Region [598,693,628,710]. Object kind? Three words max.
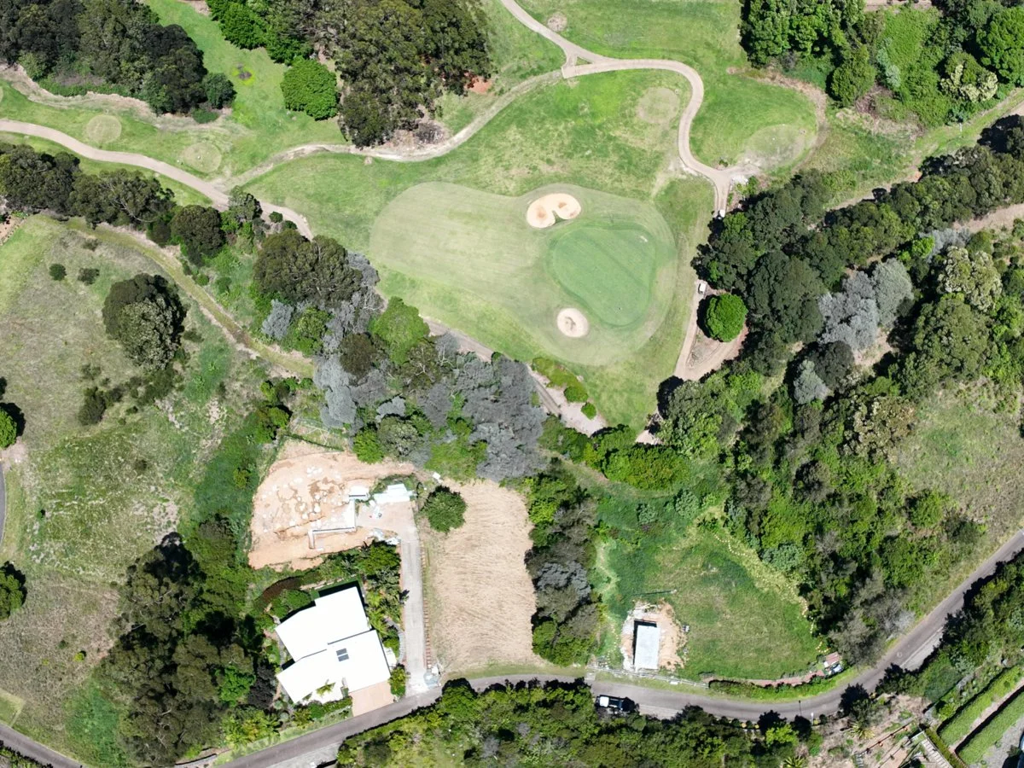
vehicle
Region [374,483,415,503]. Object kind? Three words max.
shed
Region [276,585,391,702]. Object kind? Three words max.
house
